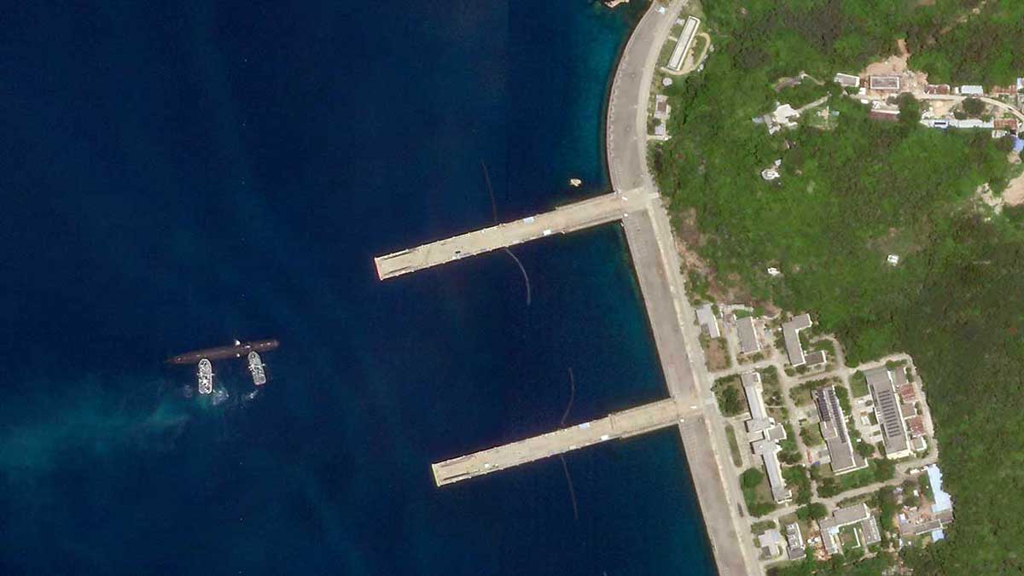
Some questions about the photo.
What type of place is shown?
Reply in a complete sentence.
It's a port.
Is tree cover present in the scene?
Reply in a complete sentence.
Yes, the picture does contain tree cover.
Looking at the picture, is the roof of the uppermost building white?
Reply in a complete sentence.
Yes, the roof of the uppermost building is indeed white.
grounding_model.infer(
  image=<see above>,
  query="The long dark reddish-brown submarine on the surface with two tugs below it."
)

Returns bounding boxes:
[166,340,279,360]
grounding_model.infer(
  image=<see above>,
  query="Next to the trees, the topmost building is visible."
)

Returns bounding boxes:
[667,16,701,72]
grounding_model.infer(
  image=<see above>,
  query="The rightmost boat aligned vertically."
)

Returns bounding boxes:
[248,350,267,387]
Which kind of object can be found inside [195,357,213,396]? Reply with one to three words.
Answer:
boat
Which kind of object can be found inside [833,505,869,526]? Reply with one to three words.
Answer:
building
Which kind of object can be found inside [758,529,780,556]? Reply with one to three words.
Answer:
house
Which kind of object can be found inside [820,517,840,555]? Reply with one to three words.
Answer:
building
